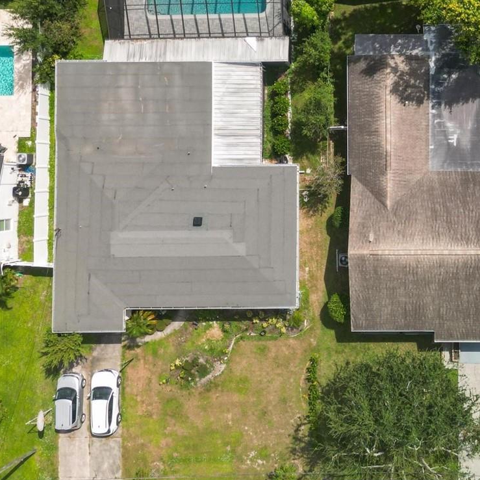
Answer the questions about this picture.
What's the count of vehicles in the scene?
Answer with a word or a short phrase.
2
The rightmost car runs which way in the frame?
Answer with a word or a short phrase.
vertically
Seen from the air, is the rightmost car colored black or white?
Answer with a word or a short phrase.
white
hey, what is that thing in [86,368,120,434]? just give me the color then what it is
white car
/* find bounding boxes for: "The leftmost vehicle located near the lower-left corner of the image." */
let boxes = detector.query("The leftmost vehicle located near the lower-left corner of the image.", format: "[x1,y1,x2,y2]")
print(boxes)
[49,372,83,433]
